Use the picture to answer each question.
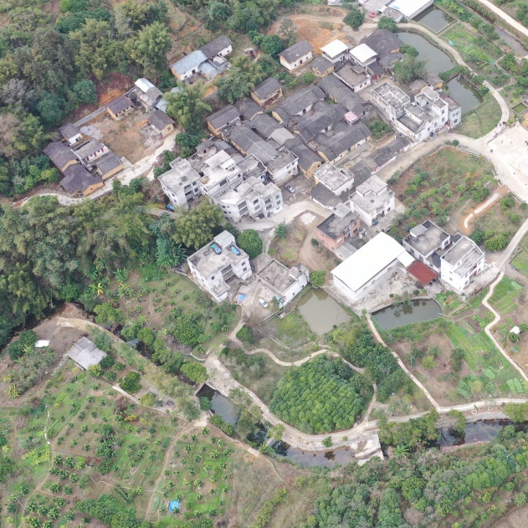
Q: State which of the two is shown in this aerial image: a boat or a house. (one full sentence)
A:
The one in the frame is a house.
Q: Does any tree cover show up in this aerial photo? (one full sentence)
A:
Yes, there is tree cover in the image.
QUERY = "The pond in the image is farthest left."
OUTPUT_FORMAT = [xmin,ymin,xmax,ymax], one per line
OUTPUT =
[296,291,352,337]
